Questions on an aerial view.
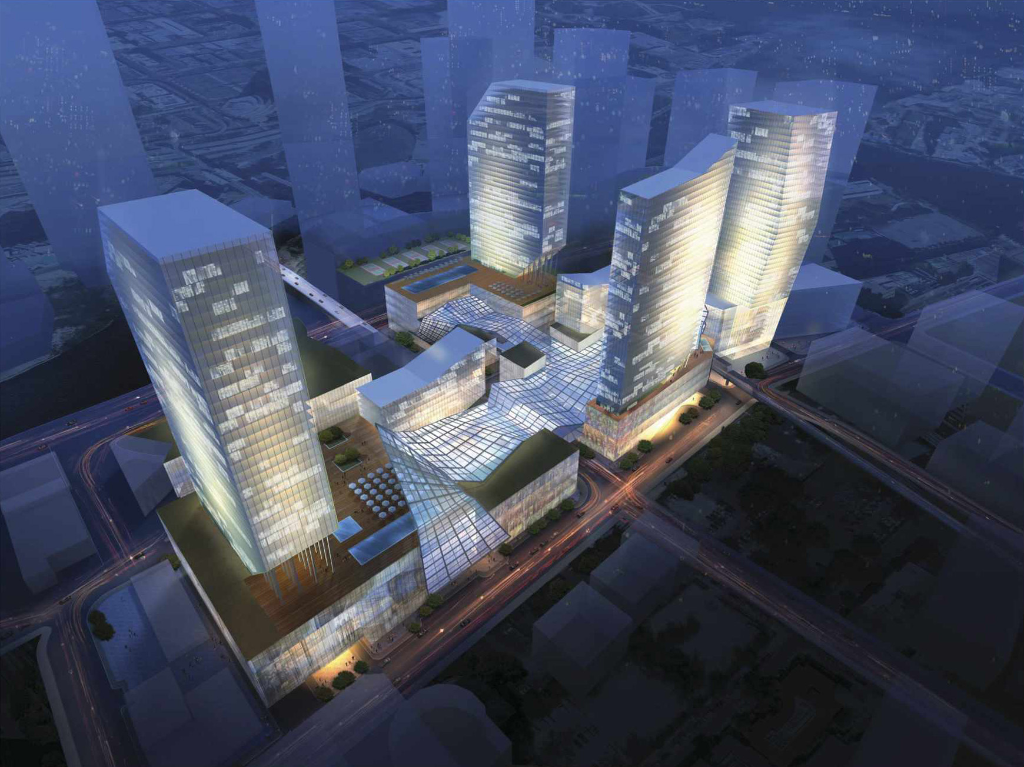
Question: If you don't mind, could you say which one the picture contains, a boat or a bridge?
bridge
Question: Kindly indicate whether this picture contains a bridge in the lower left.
No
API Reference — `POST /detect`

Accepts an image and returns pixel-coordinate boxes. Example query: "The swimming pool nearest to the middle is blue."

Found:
[401,264,479,293]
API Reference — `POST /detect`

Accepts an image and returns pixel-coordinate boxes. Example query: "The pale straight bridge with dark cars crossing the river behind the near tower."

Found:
[281,268,406,354]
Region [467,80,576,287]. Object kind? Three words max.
building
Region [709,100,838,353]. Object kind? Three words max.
building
